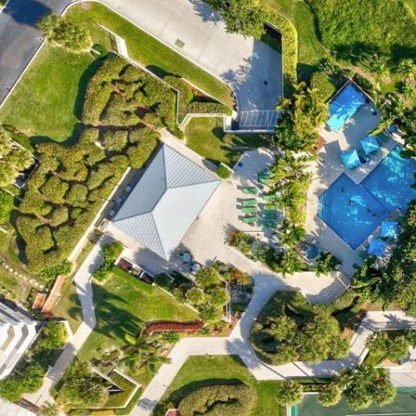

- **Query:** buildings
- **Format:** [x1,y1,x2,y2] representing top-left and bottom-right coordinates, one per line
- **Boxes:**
[0,300,38,378]
[112,144,225,260]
